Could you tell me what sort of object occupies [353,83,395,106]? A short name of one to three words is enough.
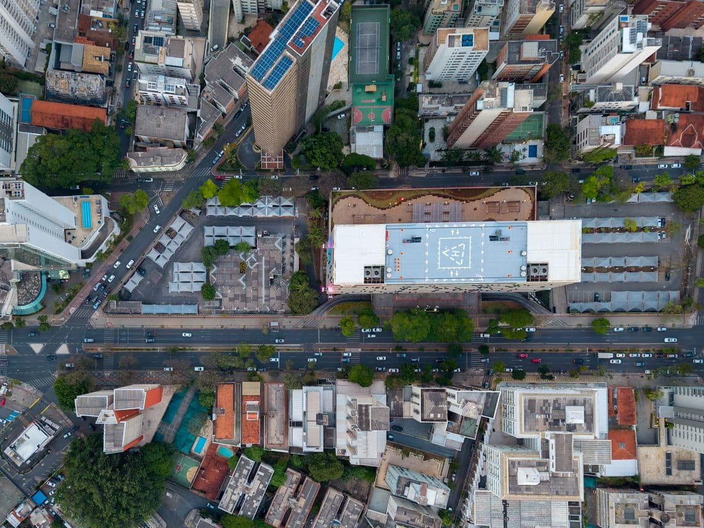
playground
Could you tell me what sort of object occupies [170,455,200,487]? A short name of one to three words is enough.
sports court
